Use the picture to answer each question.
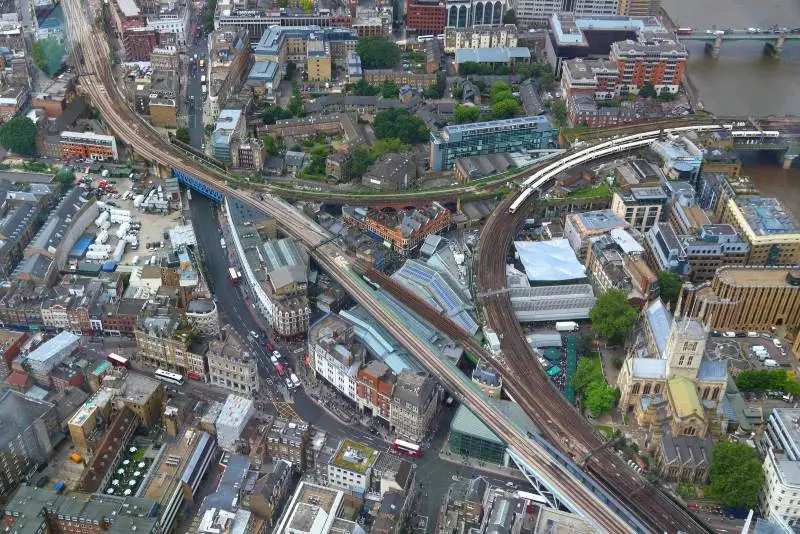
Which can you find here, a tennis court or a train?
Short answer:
train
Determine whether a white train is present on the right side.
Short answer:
Yes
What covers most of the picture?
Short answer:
buildings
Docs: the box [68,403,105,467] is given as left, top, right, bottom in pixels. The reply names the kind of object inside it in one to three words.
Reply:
building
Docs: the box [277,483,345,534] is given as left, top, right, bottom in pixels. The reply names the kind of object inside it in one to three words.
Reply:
building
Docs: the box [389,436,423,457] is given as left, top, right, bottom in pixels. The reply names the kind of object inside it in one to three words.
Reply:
bus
